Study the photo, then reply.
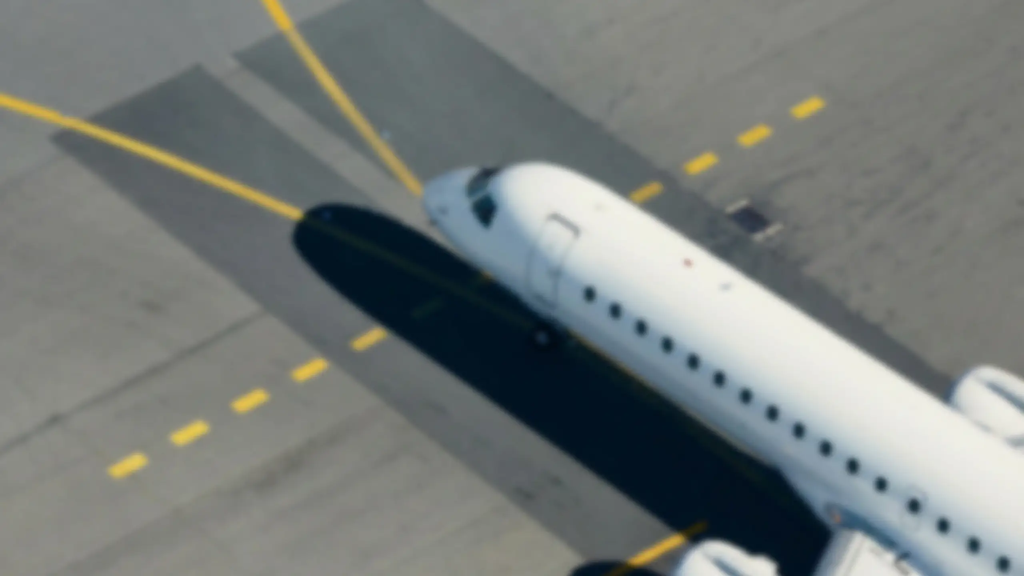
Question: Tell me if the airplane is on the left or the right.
right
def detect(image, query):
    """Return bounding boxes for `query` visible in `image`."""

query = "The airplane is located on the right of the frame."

[420,162,1024,576]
